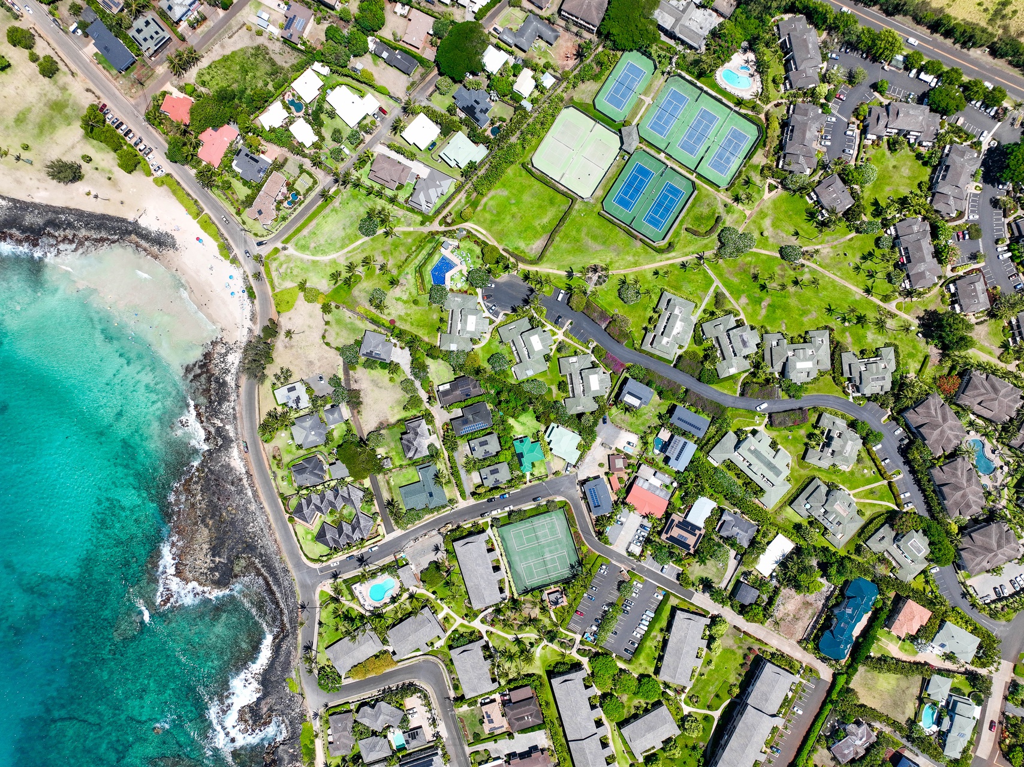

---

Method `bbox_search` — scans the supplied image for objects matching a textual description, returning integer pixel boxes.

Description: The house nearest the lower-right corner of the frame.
[937,694,981,759]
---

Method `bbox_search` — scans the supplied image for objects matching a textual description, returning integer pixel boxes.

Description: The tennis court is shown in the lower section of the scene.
[495,510,578,597]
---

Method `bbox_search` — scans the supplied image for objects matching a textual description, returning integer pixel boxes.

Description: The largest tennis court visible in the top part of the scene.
[639,72,767,188]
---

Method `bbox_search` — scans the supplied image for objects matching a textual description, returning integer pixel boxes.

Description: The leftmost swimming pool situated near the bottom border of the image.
[388,728,406,751]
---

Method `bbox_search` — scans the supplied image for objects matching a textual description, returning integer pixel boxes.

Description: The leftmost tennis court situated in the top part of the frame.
[532,103,622,199]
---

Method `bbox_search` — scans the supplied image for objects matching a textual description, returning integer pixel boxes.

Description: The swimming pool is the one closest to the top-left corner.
[285,93,305,115]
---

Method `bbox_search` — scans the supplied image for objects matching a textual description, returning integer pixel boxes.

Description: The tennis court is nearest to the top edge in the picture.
[594,48,658,122]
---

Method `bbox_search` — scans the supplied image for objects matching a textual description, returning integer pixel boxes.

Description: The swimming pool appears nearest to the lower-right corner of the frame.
[920,702,939,732]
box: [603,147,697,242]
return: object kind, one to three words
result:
tennis court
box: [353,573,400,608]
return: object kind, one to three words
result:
swimming pool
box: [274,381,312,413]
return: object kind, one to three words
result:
house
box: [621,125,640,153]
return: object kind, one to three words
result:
building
